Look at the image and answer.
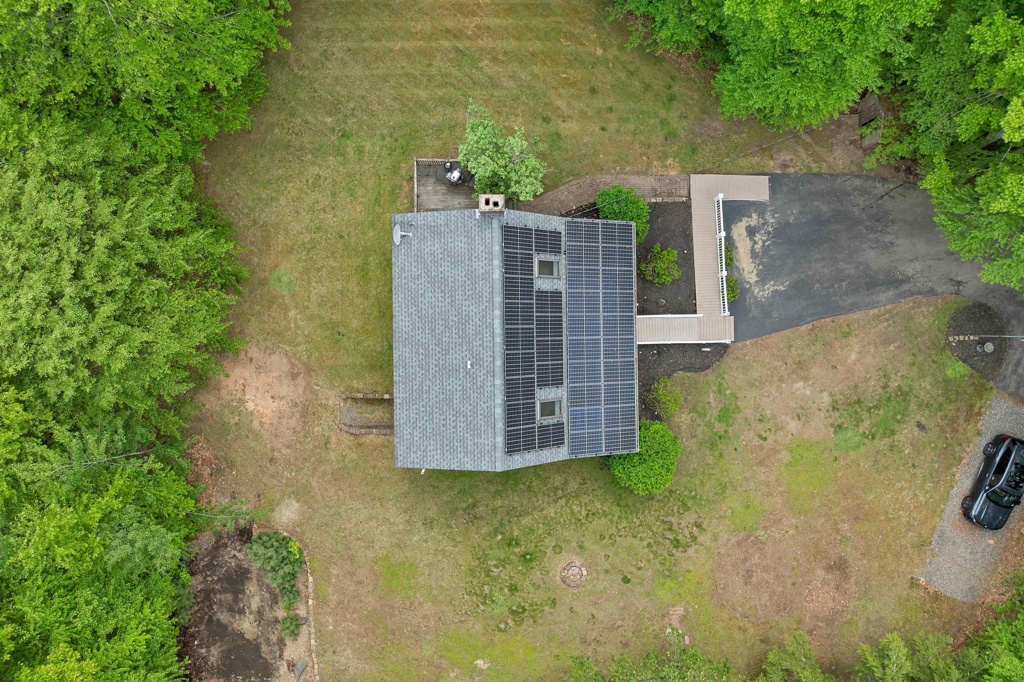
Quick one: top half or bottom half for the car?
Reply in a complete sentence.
You can find the car in the bottom half.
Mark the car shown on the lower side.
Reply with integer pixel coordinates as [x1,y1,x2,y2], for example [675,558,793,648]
[961,434,1024,532]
